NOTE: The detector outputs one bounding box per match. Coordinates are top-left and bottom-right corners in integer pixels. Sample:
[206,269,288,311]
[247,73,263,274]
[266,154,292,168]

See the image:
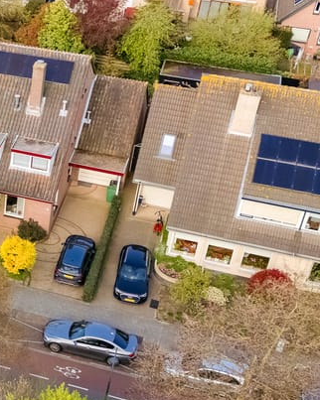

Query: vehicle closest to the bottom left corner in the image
[44,316,139,364]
